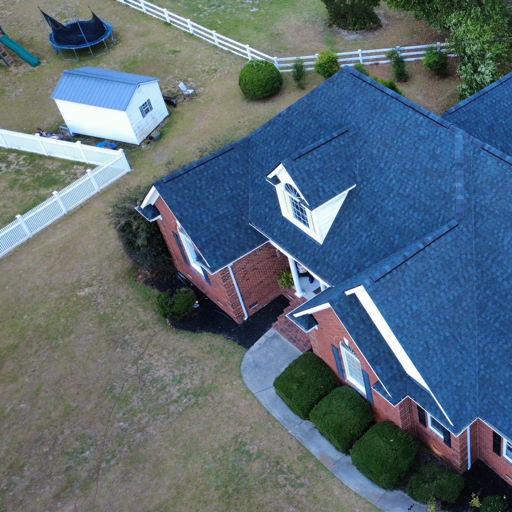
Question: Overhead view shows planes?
No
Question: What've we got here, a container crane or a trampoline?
trampoline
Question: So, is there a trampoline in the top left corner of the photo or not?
Yes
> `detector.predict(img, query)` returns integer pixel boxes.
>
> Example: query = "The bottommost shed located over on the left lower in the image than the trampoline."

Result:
[54,70,169,145]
